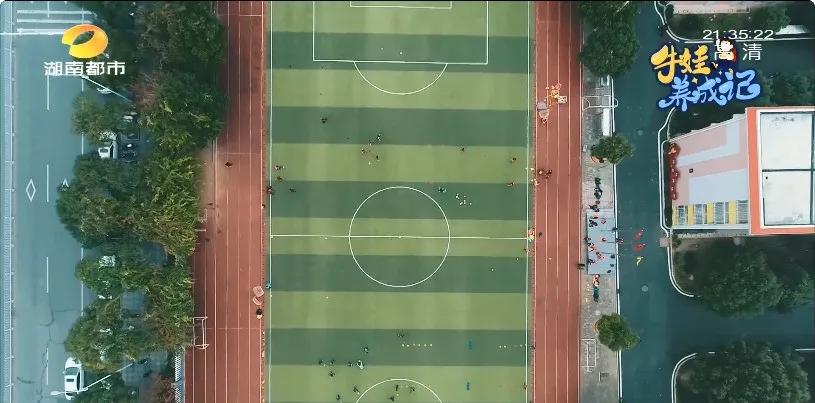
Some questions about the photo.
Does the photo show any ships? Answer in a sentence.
No, the picture doesn't show any ship.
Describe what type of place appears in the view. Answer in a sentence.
It's a sports ground.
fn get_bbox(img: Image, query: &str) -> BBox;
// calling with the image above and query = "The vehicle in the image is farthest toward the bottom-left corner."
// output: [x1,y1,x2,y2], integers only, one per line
[60,357,83,400]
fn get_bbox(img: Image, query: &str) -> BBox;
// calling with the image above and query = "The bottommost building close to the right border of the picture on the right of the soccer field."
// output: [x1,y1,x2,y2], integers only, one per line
[669,108,815,234]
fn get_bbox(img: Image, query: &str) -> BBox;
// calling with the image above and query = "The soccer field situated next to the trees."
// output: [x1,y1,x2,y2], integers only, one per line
[266,0,531,403]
